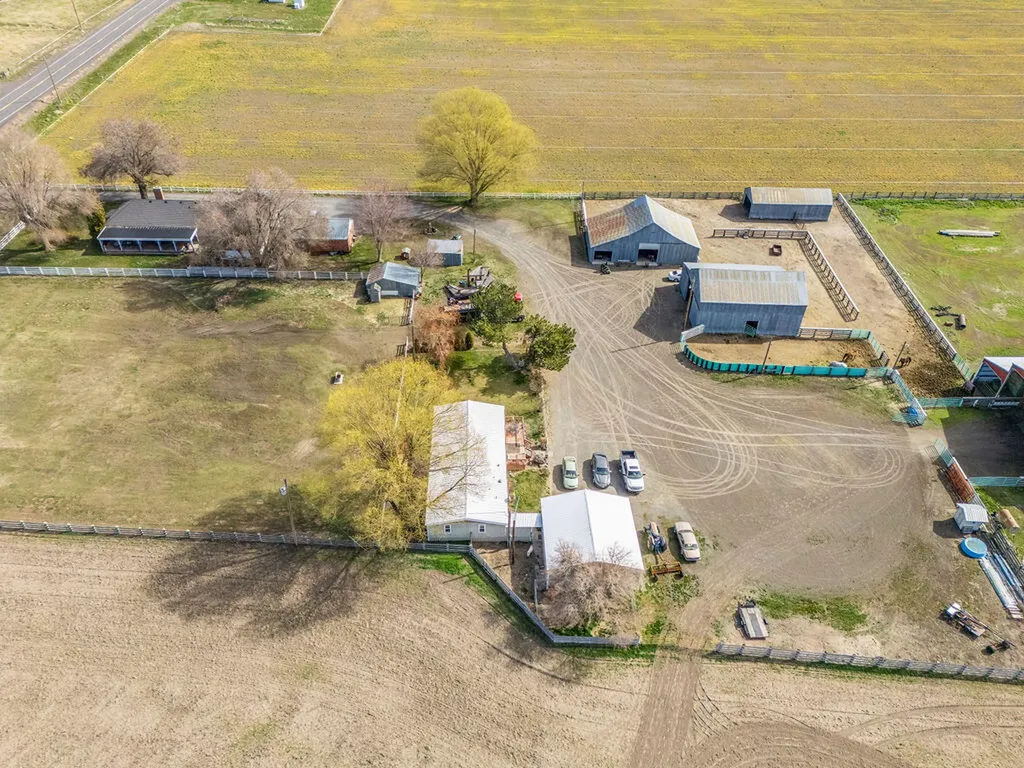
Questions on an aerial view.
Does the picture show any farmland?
Yes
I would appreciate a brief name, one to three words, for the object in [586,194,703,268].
barn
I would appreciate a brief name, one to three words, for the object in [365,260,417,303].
shed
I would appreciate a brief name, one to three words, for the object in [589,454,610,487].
car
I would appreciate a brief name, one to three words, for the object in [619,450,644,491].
truck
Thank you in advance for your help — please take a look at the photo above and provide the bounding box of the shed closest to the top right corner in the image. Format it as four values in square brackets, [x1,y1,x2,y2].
[739,187,832,219]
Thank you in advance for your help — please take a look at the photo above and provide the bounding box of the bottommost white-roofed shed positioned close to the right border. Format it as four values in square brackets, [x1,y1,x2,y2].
[958,504,990,532]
